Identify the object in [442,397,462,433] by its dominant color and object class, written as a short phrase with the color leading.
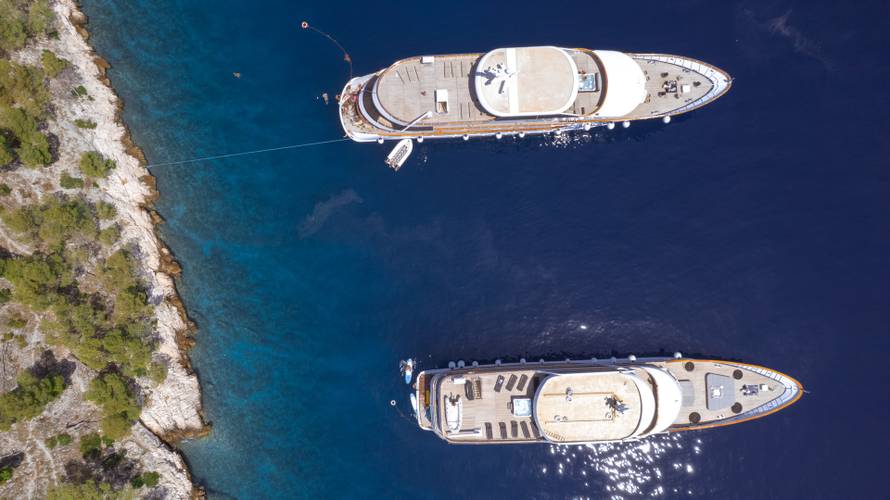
white boat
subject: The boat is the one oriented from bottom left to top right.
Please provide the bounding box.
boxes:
[387,140,415,171]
